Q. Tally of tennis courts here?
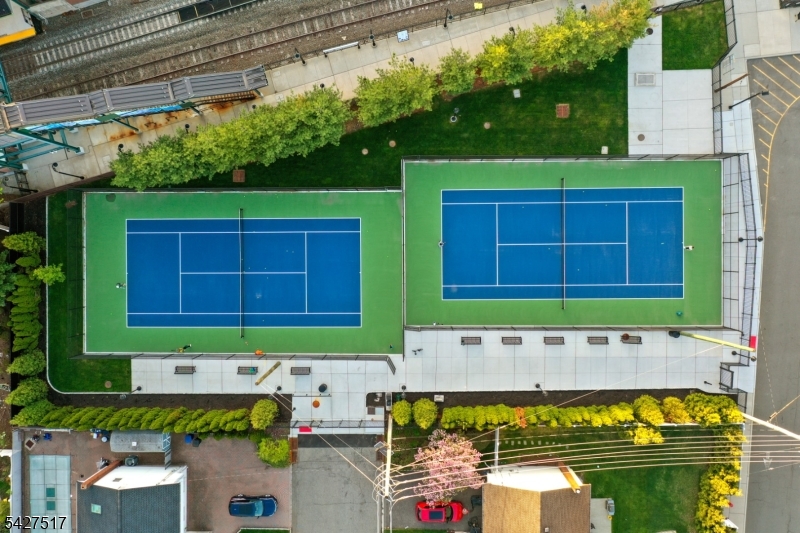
2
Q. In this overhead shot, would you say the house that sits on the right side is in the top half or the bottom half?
bottom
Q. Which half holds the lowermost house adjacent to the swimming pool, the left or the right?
left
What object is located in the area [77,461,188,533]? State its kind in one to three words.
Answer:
house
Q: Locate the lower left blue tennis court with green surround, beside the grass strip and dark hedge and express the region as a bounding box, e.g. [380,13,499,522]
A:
[86,191,404,353]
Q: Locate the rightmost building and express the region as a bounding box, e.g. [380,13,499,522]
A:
[482,462,591,533]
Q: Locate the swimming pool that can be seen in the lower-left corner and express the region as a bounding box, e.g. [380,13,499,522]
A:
[24,452,76,533]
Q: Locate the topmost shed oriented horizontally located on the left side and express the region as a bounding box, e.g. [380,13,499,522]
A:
[111,428,173,453]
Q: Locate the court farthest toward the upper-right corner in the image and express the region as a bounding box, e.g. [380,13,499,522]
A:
[406,161,722,325]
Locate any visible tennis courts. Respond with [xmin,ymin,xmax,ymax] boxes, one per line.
[406,161,722,325]
[86,191,404,353]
